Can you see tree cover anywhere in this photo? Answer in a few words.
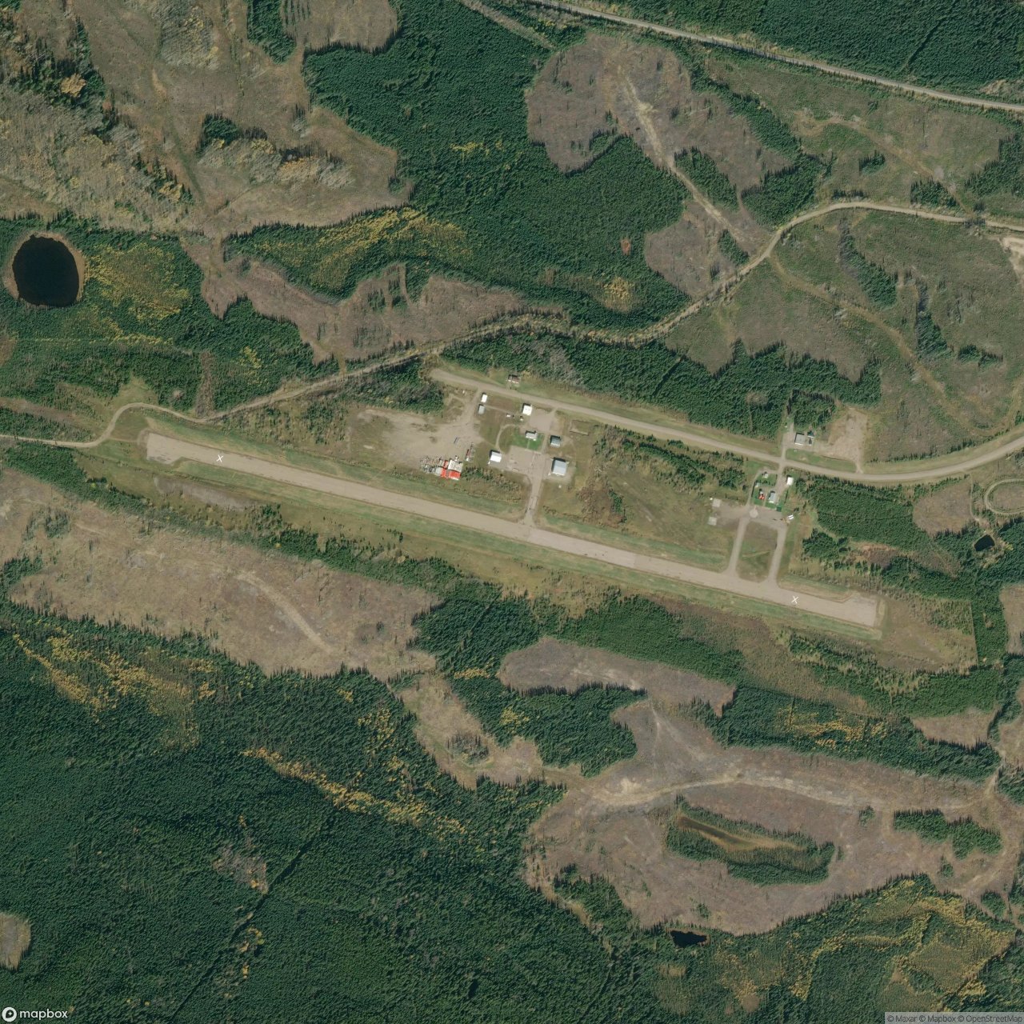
Yes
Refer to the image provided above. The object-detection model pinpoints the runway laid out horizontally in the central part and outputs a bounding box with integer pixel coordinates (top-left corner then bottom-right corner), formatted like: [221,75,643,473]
[148,433,876,626]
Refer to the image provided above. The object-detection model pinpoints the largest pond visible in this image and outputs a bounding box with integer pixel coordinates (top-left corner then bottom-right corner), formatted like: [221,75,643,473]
[12,234,79,308]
